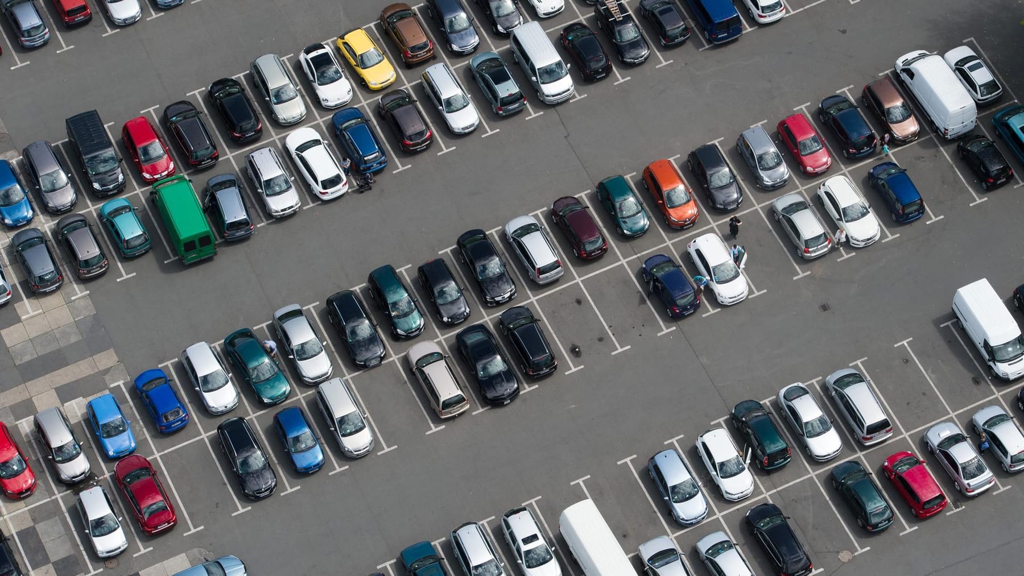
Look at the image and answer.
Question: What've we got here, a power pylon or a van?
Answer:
van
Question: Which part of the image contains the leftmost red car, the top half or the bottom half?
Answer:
bottom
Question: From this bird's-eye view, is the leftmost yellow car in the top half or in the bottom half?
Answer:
top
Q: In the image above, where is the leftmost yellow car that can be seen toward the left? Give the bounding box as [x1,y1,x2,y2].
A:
[338,29,395,93]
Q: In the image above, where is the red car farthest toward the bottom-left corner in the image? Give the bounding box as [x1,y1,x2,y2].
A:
[0,427,33,501]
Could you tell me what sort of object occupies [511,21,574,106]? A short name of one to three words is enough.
vehicle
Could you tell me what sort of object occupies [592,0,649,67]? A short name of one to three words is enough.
car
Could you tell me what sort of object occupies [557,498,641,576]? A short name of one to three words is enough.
van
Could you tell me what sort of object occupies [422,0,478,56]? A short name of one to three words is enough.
car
